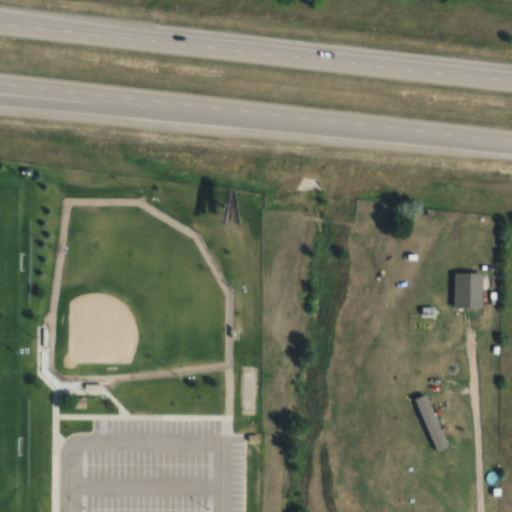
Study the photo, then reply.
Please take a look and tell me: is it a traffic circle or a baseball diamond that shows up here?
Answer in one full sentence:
It is a baseball diamond that can be seen here.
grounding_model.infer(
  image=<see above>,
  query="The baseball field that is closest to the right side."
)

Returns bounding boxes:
[44,197,234,384]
